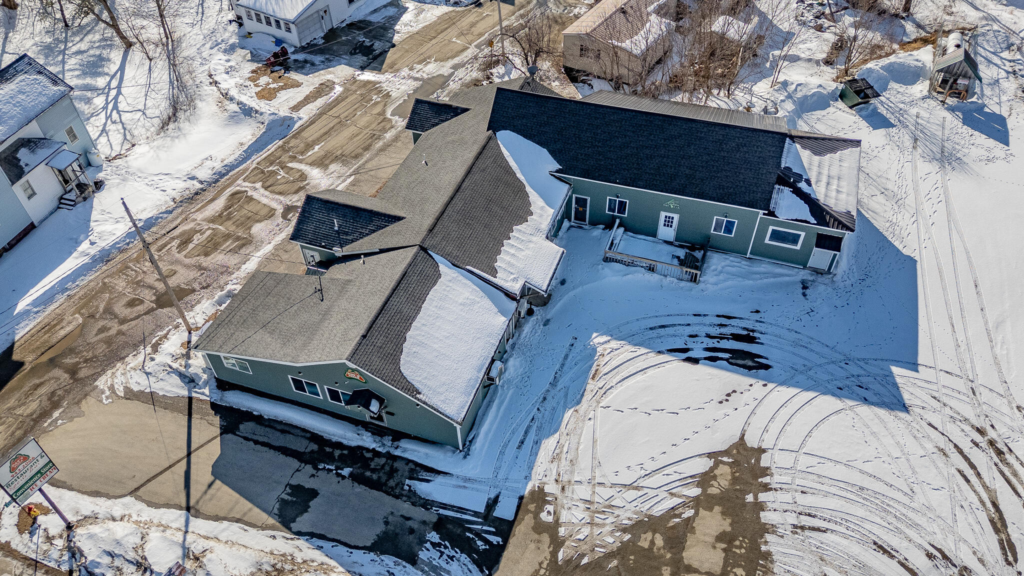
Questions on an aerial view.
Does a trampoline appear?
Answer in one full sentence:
No, this view has no trampoline in it.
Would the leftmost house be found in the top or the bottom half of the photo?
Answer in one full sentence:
The top half of the photo is where the leftmost house is.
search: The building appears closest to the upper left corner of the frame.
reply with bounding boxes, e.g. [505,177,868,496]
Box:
[0,52,98,253]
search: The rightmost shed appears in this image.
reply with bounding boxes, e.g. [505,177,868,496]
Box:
[939,49,986,95]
